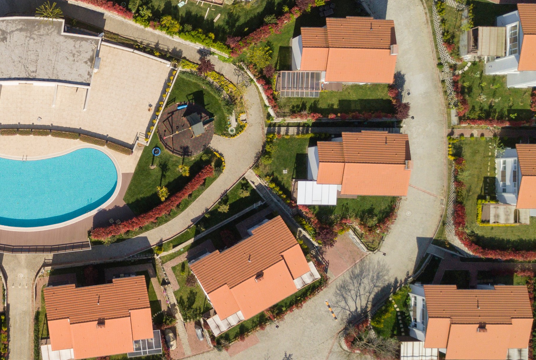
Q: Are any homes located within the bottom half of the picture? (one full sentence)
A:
Yes, there is a home within the bottom half of the picture.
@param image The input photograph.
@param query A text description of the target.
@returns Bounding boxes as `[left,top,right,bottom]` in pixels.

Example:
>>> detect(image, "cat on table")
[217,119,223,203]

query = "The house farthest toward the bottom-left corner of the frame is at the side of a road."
[44,266,153,357]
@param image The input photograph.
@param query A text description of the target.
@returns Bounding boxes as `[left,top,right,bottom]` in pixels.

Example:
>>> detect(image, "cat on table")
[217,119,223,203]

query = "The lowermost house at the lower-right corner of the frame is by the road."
[408,274,534,358]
